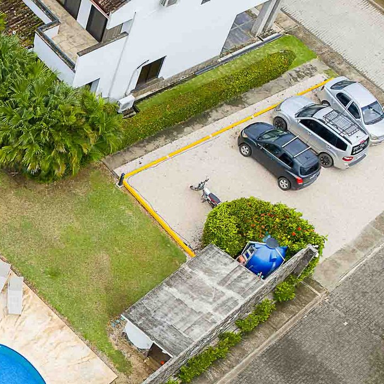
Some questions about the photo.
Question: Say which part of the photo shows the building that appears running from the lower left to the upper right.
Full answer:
The building that appears running from the lower left to the upper right is in the bottom part of the image.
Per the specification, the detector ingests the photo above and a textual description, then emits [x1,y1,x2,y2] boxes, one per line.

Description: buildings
[0,0,292,112]
[122,241,263,379]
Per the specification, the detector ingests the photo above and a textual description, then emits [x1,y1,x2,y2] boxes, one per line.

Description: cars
[324,74,384,147]
[236,119,330,194]
[270,93,373,171]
